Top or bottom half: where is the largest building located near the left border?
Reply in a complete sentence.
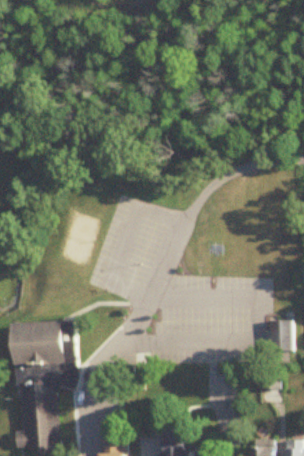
The bottom half of the photo is where the largest building located near the left border is.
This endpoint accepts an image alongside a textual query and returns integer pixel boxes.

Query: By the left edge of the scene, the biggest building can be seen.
[8,322,66,450]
